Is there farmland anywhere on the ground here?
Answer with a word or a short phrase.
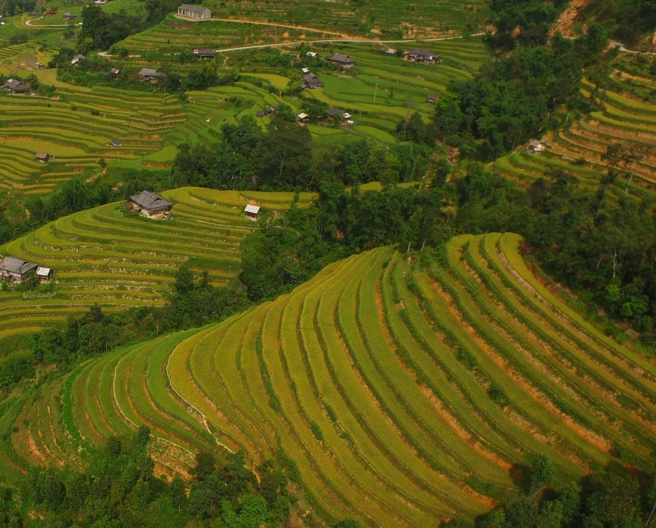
Yes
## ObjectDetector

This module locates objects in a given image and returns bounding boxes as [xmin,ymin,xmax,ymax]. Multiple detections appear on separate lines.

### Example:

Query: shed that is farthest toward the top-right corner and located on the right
[522,134,549,153]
